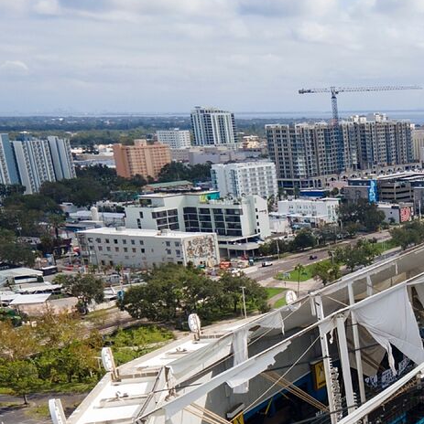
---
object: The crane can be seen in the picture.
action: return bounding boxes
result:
[294,83,420,137]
